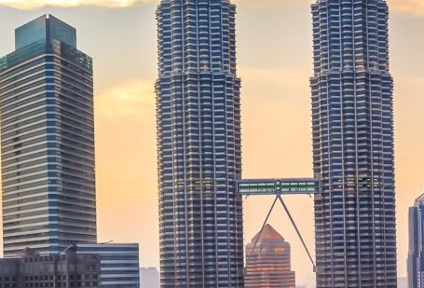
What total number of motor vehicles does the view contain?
0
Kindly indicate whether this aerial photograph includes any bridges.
Yes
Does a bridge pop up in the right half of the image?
Yes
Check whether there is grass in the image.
No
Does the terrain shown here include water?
No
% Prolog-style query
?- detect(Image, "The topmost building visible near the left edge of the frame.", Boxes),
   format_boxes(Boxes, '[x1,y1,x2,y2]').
[0,17,95,257]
